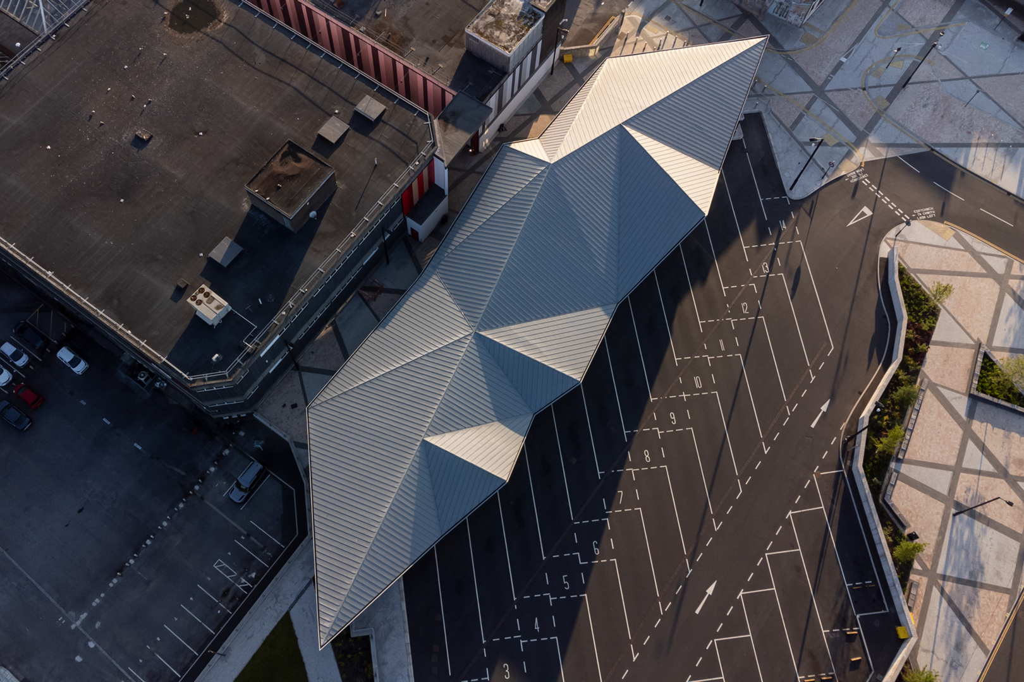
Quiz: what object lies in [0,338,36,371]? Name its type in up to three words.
car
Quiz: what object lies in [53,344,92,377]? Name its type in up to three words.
car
